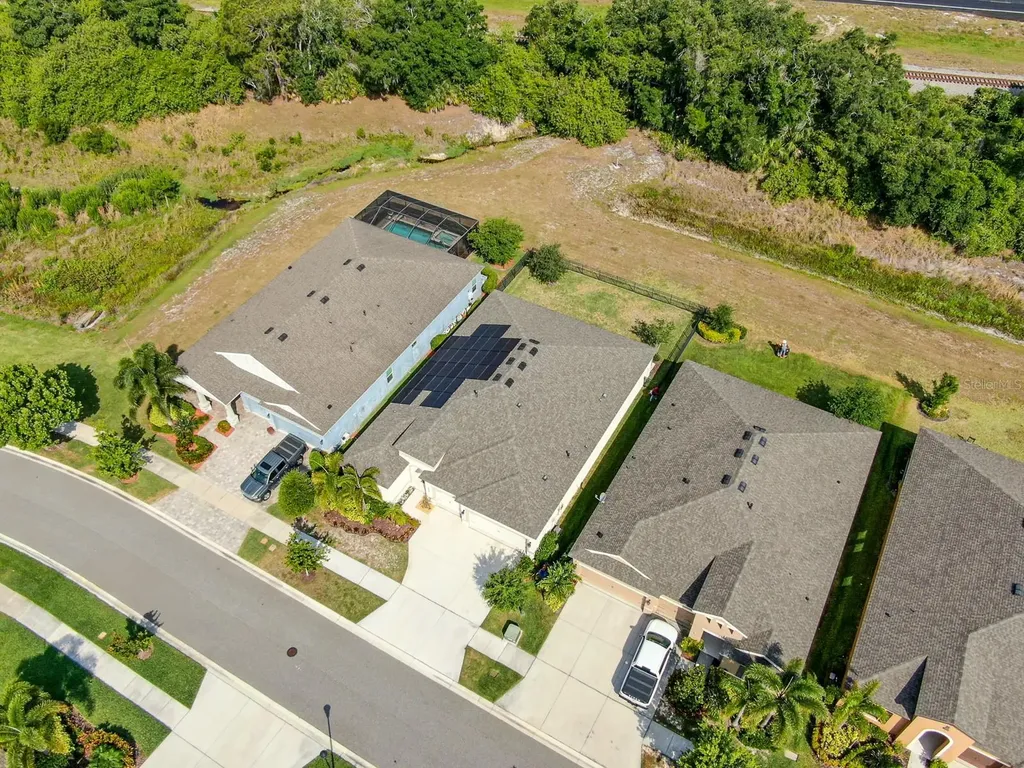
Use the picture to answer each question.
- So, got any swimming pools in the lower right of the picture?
No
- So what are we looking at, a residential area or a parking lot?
residential area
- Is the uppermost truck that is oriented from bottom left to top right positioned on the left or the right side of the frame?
left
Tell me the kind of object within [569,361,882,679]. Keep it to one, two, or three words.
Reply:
house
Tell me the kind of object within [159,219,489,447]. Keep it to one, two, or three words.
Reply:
house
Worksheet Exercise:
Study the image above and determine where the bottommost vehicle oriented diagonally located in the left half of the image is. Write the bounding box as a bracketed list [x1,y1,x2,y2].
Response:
[241,439,306,505]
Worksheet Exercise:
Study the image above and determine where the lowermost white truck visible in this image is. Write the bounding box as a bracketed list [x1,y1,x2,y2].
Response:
[617,614,683,703]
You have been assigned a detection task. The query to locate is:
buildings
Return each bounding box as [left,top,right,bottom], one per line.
[159,219,489,447]
[840,426,1024,768]
[333,290,656,555]
[569,361,882,679]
